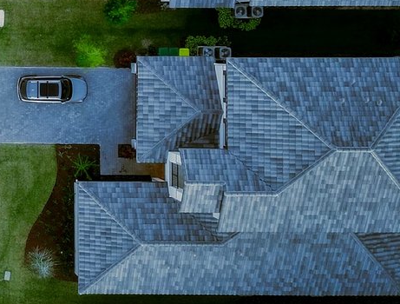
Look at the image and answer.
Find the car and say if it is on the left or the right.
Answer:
left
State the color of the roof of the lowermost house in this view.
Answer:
blue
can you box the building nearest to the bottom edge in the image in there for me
[75,56,400,295]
